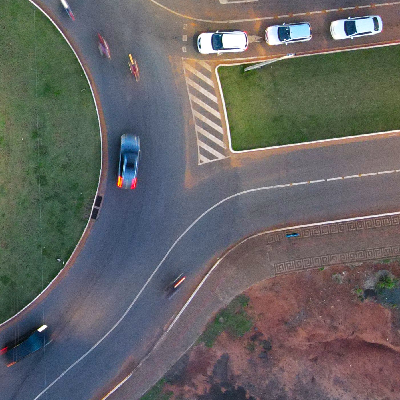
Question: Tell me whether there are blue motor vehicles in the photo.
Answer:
Yes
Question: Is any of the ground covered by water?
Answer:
No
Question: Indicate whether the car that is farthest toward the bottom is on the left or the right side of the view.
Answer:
left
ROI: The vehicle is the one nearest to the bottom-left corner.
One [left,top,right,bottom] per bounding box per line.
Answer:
[0,323,49,365]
